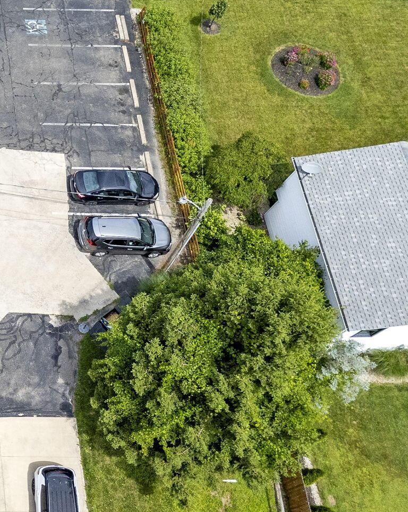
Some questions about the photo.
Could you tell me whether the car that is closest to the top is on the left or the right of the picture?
left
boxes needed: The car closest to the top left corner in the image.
[67,165,159,208]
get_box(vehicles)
[74,215,172,260]
[67,165,159,208]
[31,465,84,512]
